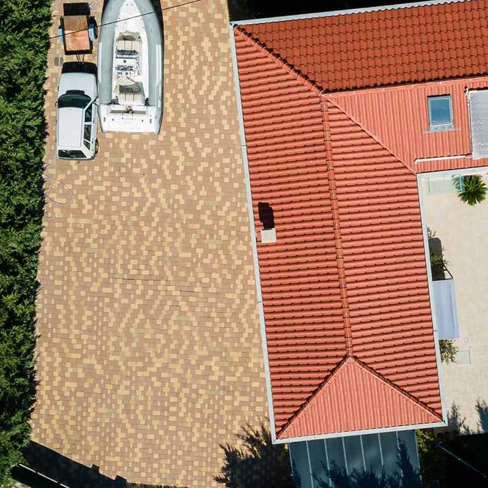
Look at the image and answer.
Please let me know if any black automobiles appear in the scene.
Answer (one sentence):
No, I can't see a single black automobile in this photo.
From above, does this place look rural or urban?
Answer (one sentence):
The area is urban.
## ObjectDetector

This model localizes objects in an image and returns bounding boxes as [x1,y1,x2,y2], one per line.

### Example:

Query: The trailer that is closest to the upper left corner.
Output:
[55,11,99,70]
